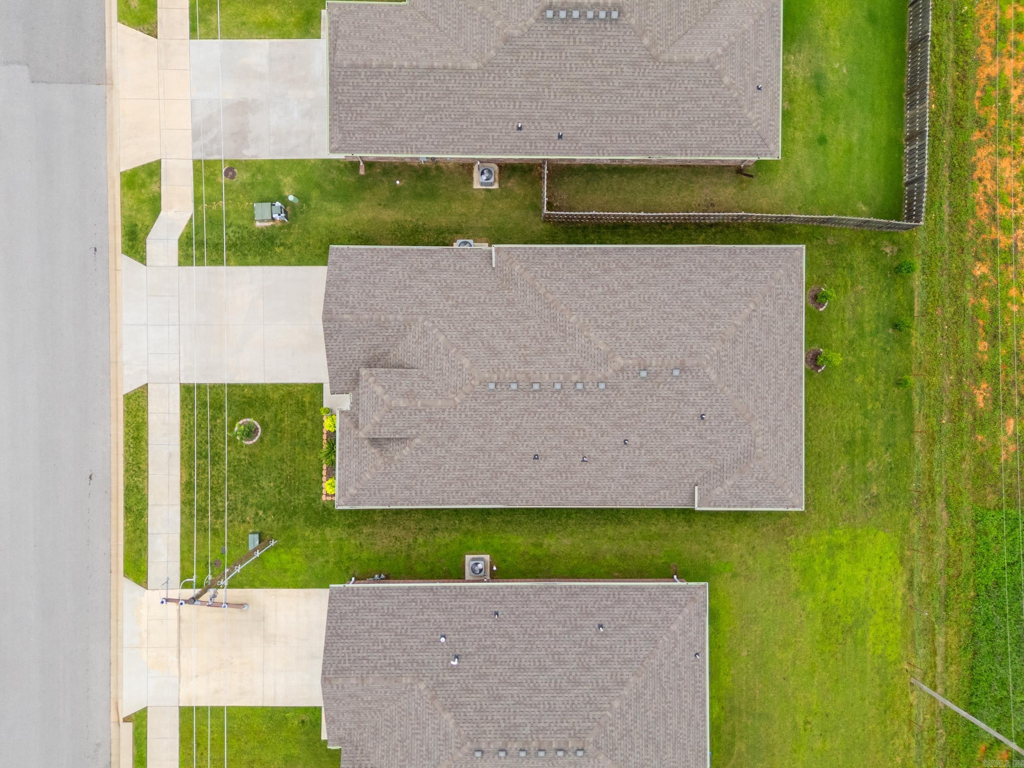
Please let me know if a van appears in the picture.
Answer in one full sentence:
No, I find no van anywhere in the image.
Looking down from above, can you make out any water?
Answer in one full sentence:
No, there's no water in this view.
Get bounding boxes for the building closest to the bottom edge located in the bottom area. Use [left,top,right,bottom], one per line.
[319,570,708,768]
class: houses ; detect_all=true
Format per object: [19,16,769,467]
[332,0,782,168]
[320,244,806,510]
[319,570,708,768]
